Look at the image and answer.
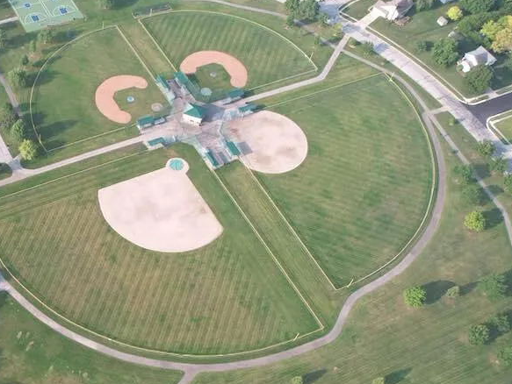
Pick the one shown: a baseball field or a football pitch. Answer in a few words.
baseball field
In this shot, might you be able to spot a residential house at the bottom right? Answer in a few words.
No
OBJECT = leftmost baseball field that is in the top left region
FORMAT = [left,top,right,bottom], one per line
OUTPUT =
[33,25,174,151]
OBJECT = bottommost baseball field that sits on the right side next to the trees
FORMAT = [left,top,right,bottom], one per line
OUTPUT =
[220,72,435,289]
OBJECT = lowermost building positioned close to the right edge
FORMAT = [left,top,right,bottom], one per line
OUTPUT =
[449,46,493,77]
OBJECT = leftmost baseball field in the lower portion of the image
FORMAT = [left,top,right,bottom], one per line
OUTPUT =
[0,135,320,356]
